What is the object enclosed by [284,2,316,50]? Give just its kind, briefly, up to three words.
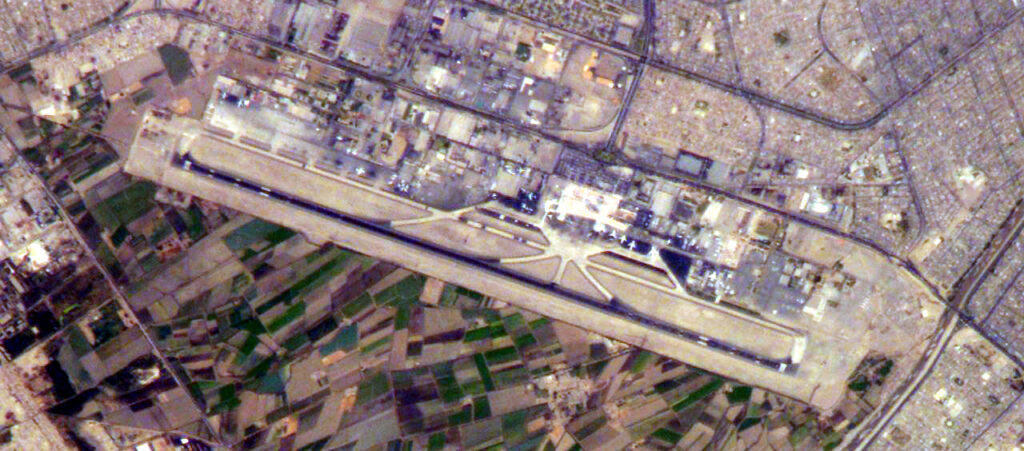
building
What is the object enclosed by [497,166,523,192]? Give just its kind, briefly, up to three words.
building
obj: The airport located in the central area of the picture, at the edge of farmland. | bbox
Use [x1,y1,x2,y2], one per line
[125,74,866,408]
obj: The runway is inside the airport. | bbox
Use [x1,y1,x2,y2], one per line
[170,151,801,377]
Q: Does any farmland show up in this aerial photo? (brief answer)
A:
Yes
